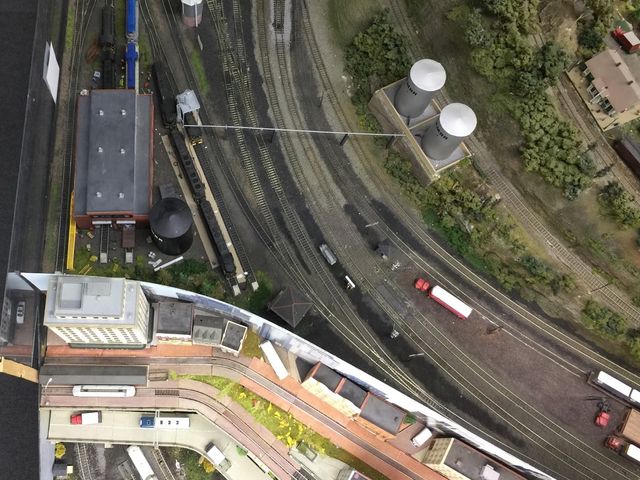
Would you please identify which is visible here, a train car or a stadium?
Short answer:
train car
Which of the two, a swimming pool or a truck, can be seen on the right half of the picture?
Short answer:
truck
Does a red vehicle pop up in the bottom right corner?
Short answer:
Yes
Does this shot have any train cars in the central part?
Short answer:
Yes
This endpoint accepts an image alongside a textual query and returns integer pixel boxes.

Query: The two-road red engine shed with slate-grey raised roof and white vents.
[75,86,154,235]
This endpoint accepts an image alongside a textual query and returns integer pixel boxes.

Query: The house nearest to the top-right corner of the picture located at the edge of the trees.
[580,53,640,118]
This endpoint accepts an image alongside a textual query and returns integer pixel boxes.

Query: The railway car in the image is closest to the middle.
[317,242,339,268]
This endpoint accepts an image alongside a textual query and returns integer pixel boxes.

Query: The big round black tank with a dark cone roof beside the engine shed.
[148,201,194,256]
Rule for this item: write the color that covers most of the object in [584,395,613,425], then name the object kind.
red truck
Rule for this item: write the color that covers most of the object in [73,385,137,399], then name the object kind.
white train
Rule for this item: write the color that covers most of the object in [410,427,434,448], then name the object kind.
white vehicle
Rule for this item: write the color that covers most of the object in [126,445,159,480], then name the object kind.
white rail car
